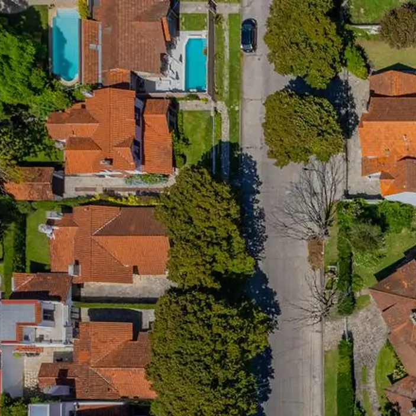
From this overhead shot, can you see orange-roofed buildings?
Yes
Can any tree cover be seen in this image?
Yes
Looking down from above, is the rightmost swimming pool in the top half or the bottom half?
top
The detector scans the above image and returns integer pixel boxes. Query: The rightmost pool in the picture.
[183,37,206,89]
